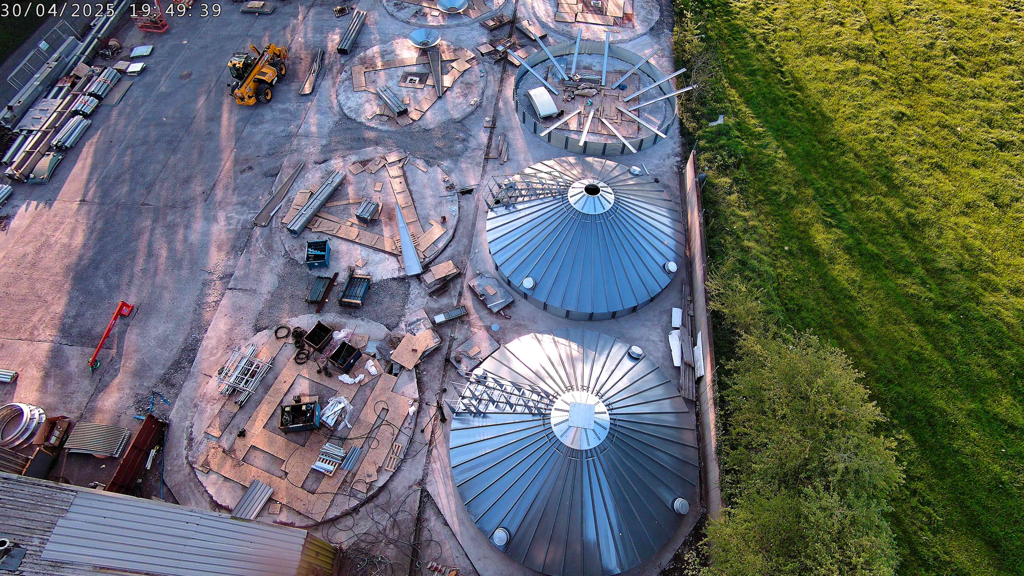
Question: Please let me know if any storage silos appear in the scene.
Yes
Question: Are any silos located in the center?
Yes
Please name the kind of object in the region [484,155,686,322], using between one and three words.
silo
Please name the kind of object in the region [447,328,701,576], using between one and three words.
silo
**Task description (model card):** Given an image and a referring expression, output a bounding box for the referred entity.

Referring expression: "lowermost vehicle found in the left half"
[215,41,288,105]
